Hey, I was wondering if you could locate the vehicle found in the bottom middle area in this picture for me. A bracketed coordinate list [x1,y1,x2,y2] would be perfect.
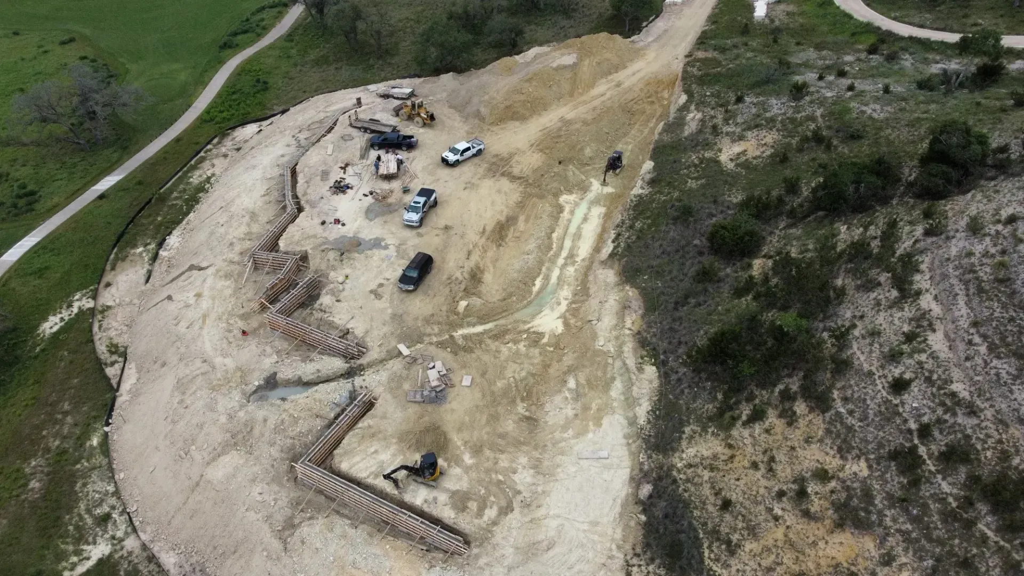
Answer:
[370,456,442,491]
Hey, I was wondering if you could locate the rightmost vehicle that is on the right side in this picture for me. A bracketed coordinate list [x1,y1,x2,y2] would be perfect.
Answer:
[604,148,629,181]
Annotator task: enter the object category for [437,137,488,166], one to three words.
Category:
truck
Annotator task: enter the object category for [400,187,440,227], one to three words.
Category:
truck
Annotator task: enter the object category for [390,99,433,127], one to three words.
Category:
work vehicle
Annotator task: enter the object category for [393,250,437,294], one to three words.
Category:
car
